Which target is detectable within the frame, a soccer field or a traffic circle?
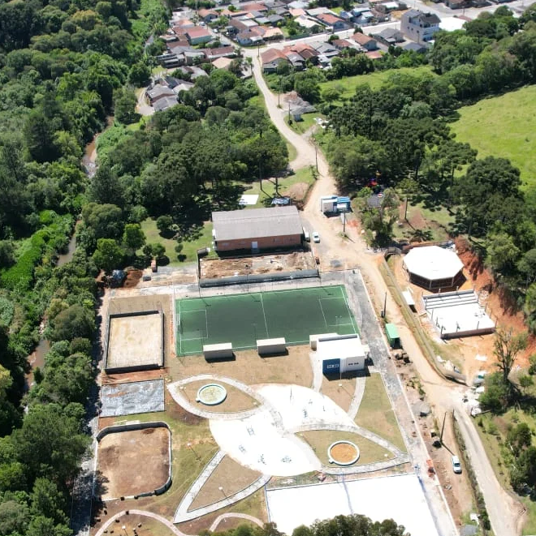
soccer field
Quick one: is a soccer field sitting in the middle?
Yes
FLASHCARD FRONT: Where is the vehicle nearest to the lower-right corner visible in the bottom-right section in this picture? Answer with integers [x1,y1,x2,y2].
[449,455,464,472]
